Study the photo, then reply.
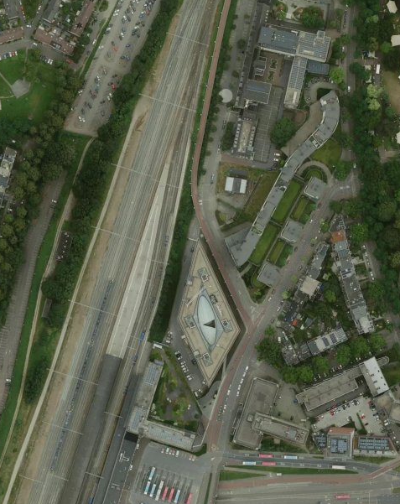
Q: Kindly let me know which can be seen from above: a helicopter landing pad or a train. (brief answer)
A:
train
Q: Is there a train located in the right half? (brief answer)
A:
No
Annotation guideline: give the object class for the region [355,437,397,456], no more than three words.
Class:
building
